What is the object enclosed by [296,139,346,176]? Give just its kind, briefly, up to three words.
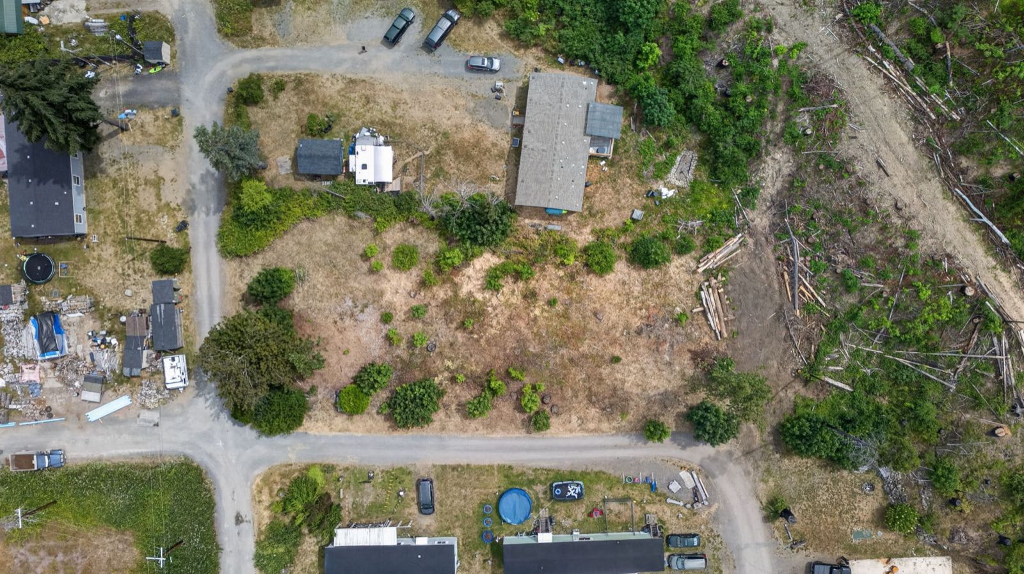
shed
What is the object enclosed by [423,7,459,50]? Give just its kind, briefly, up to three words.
truck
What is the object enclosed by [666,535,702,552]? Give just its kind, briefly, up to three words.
car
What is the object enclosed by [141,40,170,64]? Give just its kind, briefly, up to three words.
shed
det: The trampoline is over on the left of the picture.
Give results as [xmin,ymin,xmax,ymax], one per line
[19,253,53,284]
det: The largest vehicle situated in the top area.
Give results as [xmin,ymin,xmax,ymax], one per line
[349,135,395,187]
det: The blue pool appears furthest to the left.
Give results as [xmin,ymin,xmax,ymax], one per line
[498,490,533,526]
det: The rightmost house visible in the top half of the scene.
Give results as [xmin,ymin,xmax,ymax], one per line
[516,72,597,212]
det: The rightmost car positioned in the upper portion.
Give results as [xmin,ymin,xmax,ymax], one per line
[467,54,502,72]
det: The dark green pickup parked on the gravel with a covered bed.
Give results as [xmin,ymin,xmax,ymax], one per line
[382,7,414,46]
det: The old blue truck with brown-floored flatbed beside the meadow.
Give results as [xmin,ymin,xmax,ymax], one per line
[2,451,63,473]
